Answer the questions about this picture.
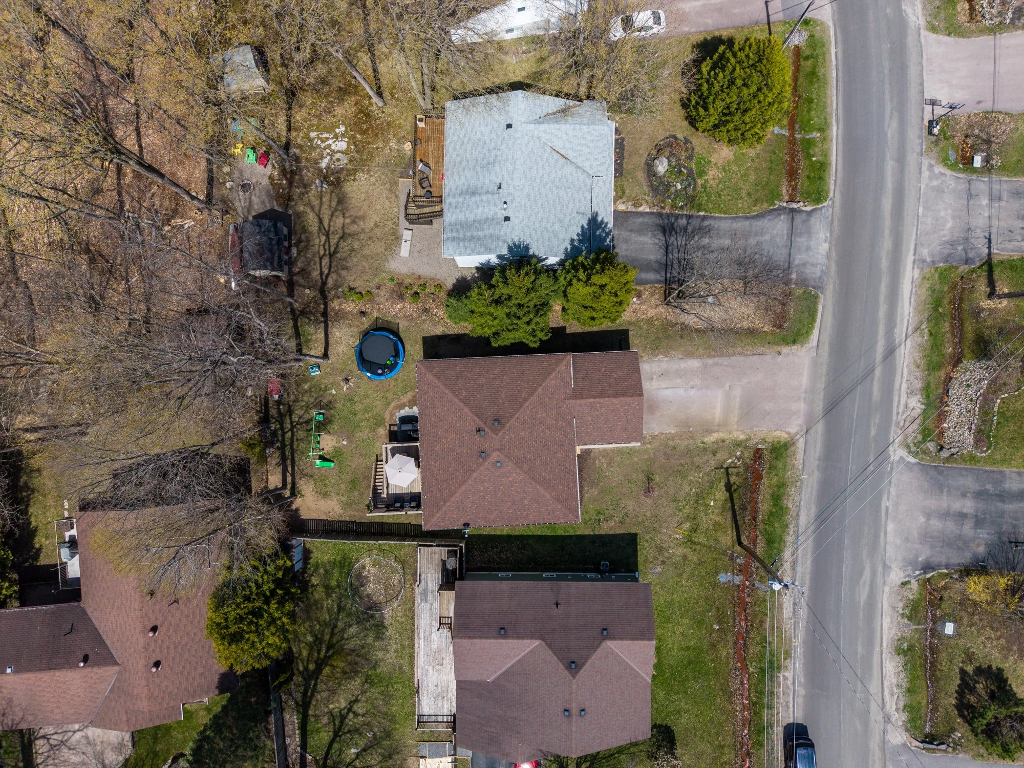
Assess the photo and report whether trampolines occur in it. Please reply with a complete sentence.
Yes, a trampoline can be made out from above.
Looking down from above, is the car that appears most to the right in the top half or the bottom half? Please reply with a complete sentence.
It is in the bottom half that the car that appears most to the right appears.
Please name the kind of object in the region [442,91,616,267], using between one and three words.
house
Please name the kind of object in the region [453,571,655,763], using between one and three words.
house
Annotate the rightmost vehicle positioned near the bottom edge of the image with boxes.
[787,737,816,768]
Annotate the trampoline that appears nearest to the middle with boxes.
[354,329,406,380]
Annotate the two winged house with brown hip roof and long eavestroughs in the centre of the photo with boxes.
[414,348,644,531]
